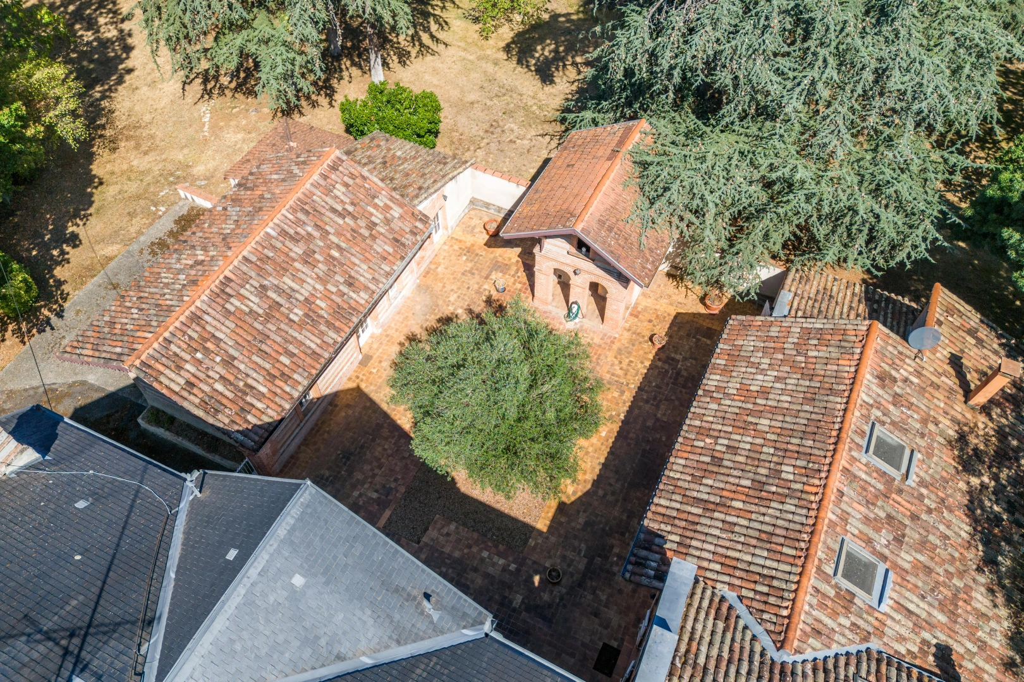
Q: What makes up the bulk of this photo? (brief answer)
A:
buildings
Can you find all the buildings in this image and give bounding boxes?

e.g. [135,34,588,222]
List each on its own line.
[50,143,439,476]
[499,114,702,337]
[617,280,1024,682]
[0,403,589,682]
